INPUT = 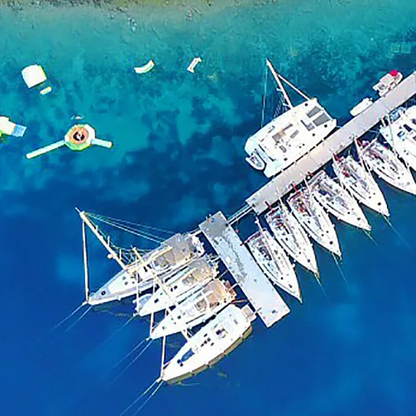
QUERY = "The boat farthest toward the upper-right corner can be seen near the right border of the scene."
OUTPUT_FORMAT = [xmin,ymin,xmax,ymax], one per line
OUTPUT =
[372,71,404,93]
